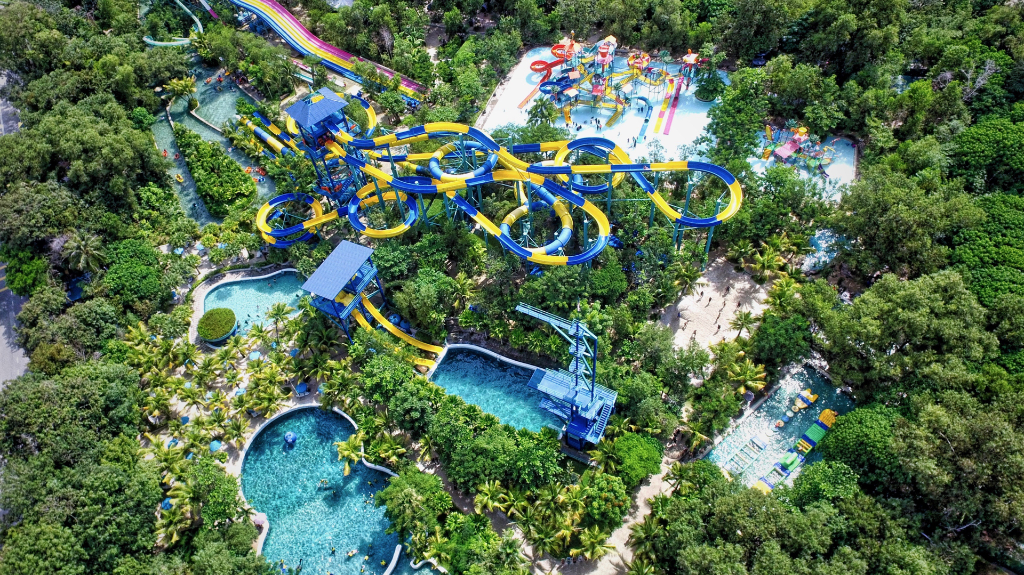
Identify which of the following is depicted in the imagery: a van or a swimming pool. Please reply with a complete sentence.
Visible in the photo is a swimming pool.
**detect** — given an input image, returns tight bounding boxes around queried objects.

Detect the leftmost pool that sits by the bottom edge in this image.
[241,405,445,575]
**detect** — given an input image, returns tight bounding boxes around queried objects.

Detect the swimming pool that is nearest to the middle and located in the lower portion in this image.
[431,346,574,433]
